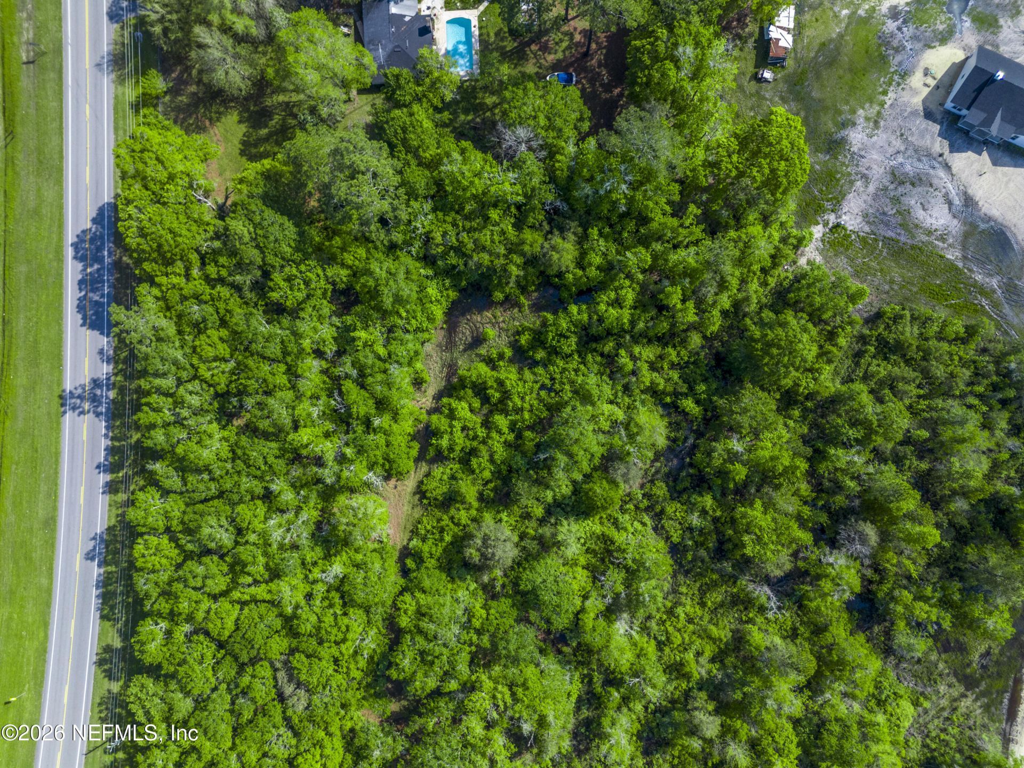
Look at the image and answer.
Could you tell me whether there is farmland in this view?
No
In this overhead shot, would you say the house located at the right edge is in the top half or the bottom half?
top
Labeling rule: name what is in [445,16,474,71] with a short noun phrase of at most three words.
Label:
swimming pool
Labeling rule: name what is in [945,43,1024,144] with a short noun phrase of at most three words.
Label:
house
